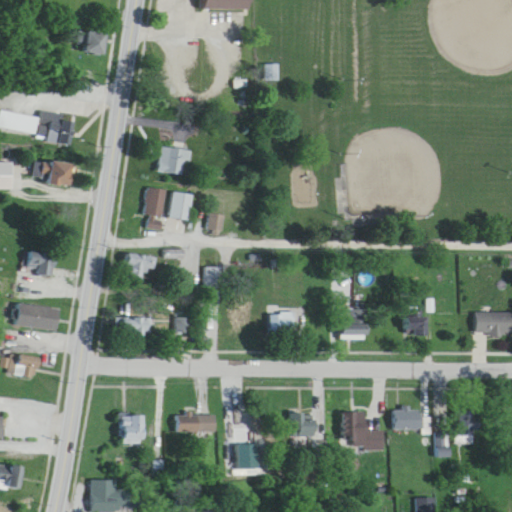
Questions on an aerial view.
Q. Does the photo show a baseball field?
Yes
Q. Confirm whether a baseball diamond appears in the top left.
No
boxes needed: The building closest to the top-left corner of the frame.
[76,30,108,56]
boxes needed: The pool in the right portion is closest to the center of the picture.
[356,271,375,288]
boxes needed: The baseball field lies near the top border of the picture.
[429,0,512,76]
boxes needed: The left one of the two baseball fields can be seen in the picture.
[336,128,442,221]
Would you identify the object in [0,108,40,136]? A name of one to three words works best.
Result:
barn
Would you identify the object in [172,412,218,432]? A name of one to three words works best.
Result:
house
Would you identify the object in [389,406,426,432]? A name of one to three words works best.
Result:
house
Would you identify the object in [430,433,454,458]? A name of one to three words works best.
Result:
building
